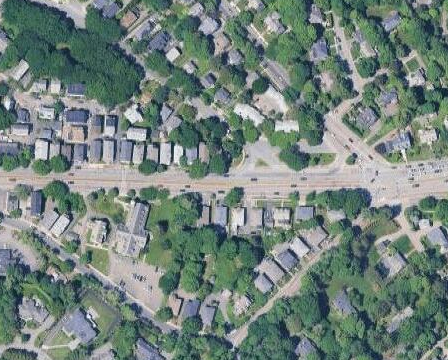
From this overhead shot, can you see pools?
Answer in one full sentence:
No, I can't see a single pool in this photo.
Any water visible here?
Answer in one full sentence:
No, the scene doesn't show any water.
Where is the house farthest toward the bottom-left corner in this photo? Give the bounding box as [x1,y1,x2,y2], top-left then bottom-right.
[18,293,52,326]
